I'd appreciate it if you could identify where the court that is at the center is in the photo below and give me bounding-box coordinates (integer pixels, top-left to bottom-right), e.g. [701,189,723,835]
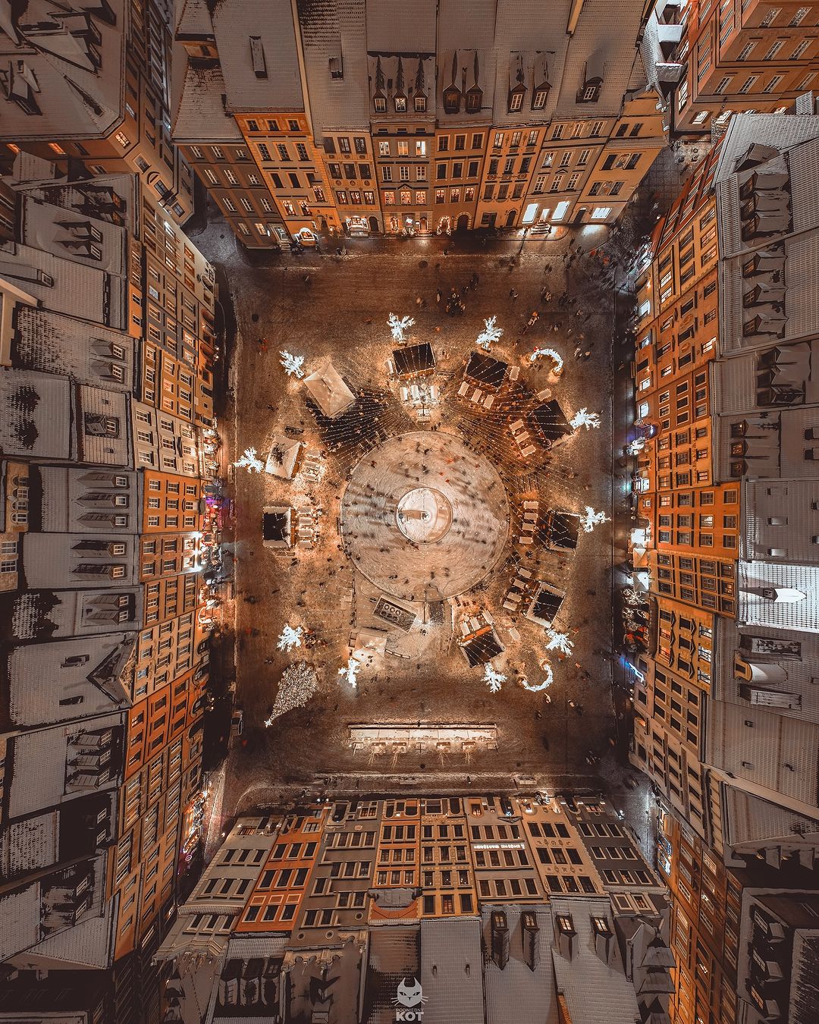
[336,428,513,604]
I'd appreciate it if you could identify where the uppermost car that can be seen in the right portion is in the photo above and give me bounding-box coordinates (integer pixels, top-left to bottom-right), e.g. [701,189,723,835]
[625,767,647,796]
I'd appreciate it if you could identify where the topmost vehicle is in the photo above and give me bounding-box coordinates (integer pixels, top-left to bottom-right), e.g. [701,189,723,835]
[228,709,244,738]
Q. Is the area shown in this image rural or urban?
urban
